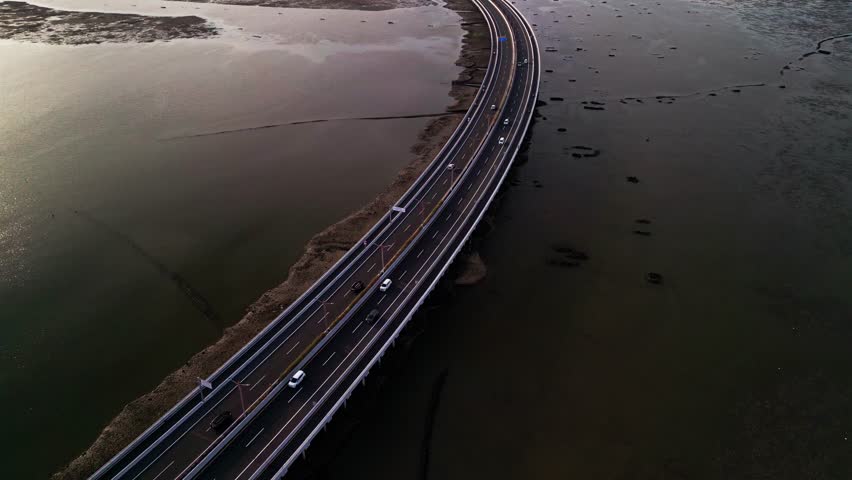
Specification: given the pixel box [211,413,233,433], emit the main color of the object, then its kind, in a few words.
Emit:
black car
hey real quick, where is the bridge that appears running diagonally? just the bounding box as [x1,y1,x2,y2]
[89,0,542,480]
